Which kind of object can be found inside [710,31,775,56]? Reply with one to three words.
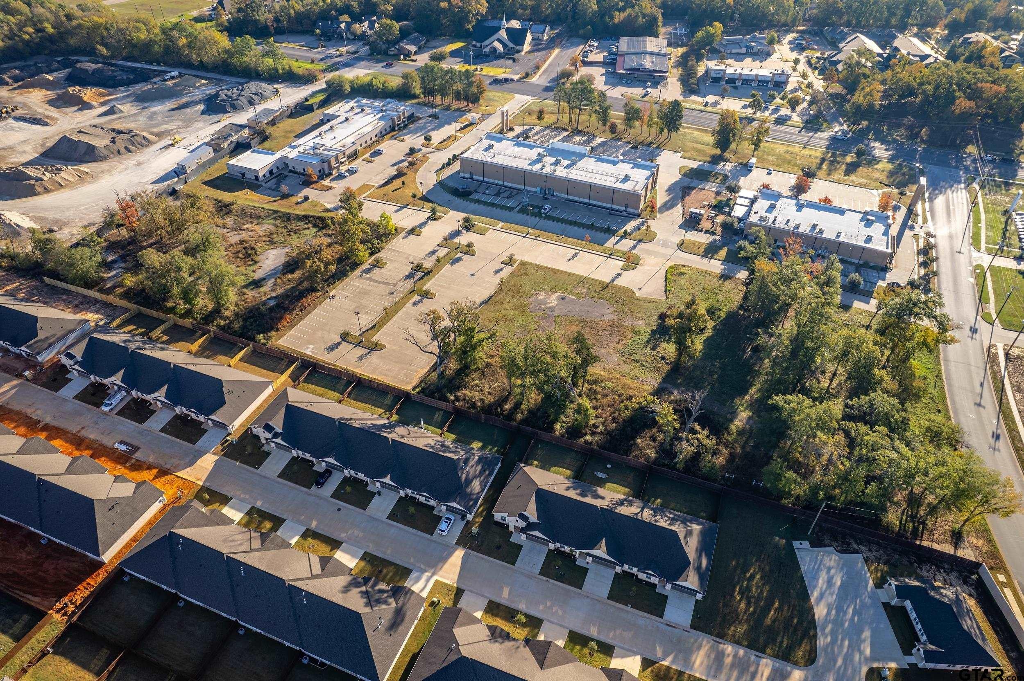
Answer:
building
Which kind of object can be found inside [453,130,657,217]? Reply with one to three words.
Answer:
building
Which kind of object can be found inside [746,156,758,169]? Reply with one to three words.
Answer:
vehicle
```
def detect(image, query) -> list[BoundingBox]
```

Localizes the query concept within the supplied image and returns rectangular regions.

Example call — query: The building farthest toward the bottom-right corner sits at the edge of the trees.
[879,572,1014,681]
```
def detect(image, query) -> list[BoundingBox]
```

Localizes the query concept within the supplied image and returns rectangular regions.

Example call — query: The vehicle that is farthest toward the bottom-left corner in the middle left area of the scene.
[101,388,127,411]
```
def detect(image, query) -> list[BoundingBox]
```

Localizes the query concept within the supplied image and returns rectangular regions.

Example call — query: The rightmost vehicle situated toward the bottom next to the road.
[437,515,457,536]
